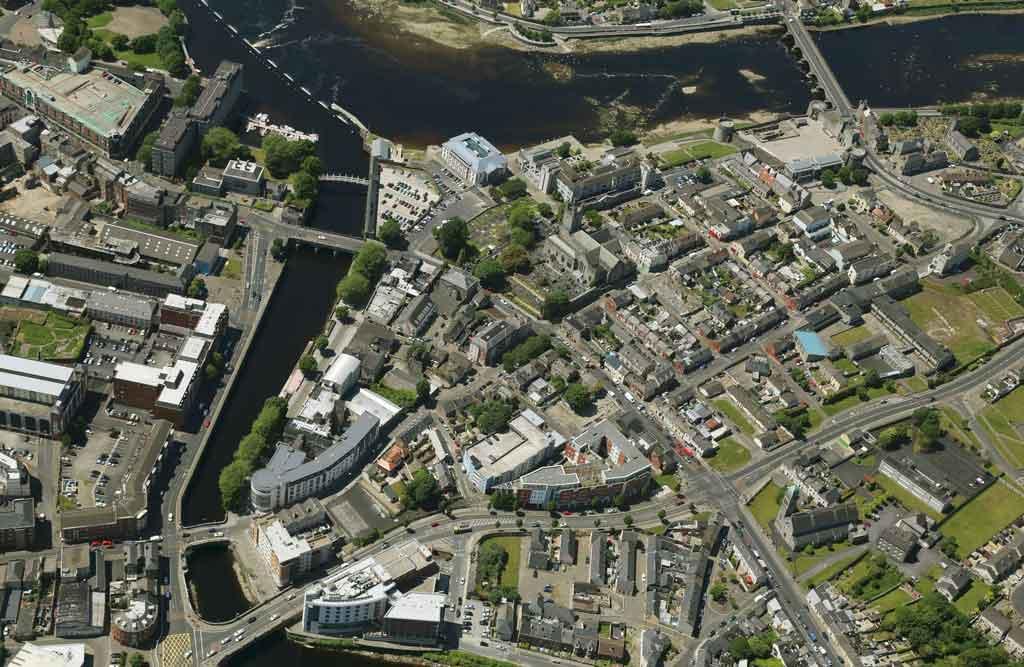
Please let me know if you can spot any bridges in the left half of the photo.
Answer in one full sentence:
Yes, a bridge is visible in the left half of the photo.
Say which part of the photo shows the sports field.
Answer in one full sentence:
The sports field is located in the right region of the scene.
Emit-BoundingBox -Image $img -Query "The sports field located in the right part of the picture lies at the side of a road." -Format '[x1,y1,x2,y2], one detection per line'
[904,279,1024,367]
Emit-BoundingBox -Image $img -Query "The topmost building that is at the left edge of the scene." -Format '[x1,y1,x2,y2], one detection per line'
[31,19,63,43]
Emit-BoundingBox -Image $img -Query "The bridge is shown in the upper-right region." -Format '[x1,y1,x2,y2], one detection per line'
[779,16,858,109]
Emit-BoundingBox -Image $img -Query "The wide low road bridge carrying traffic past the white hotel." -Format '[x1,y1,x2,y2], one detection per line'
[188,583,303,649]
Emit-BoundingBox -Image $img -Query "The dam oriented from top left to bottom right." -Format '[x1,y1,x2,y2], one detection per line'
[188,0,349,137]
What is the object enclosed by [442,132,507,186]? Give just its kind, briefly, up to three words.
building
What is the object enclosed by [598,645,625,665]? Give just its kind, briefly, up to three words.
house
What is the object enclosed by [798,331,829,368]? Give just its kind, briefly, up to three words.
shed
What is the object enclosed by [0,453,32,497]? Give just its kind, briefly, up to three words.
building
